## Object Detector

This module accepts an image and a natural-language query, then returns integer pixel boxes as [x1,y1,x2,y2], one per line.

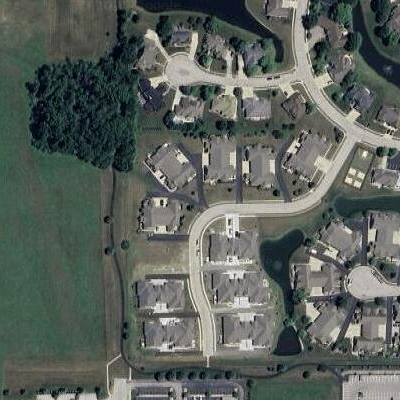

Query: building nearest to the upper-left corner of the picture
[140,44,158,70]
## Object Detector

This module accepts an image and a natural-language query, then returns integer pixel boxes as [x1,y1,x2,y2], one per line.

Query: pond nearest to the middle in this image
[260,227,306,318]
